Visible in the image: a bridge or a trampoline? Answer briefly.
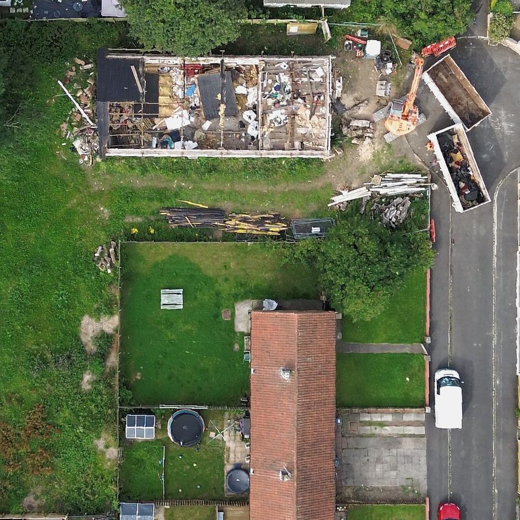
trampoline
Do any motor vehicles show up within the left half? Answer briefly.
No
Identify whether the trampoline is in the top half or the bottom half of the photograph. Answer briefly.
bottom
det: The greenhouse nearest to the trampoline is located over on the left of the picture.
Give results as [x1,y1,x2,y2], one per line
[125,414,155,439]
